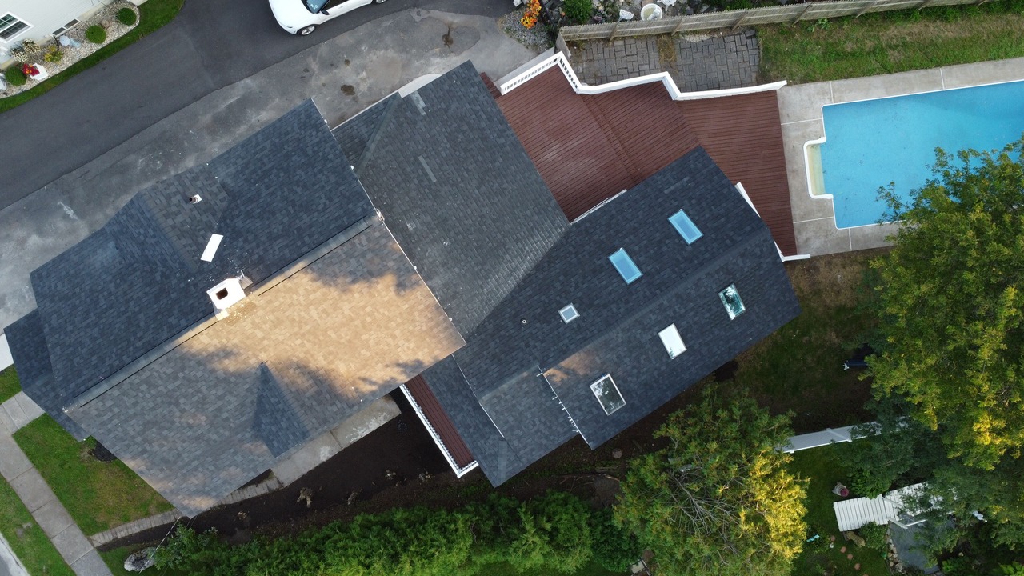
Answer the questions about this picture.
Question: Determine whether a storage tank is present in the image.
No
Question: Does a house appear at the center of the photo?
Yes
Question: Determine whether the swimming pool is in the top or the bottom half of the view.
top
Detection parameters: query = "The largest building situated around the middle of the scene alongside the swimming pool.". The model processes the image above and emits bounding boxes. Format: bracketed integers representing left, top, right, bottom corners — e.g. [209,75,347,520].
[6,61,802,518]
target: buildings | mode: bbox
[6,61,802,518]
[0,0,111,61]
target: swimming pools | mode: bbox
[803,79,1024,230]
